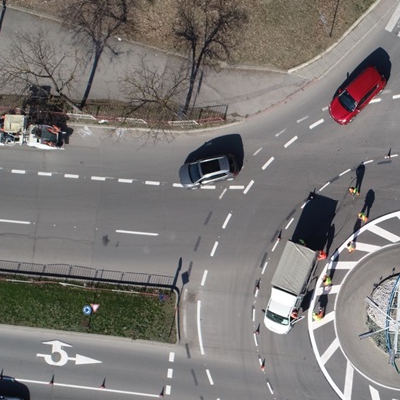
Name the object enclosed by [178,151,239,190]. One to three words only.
car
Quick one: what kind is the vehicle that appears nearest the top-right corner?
car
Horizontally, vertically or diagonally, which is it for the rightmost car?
diagonally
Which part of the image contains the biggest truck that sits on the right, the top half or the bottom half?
bottom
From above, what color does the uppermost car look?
red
